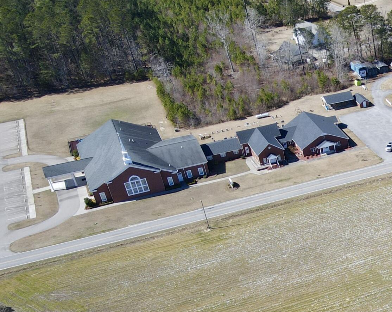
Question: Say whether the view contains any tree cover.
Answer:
Yes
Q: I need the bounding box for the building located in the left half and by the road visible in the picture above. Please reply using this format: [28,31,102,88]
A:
[43,120,211,205]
